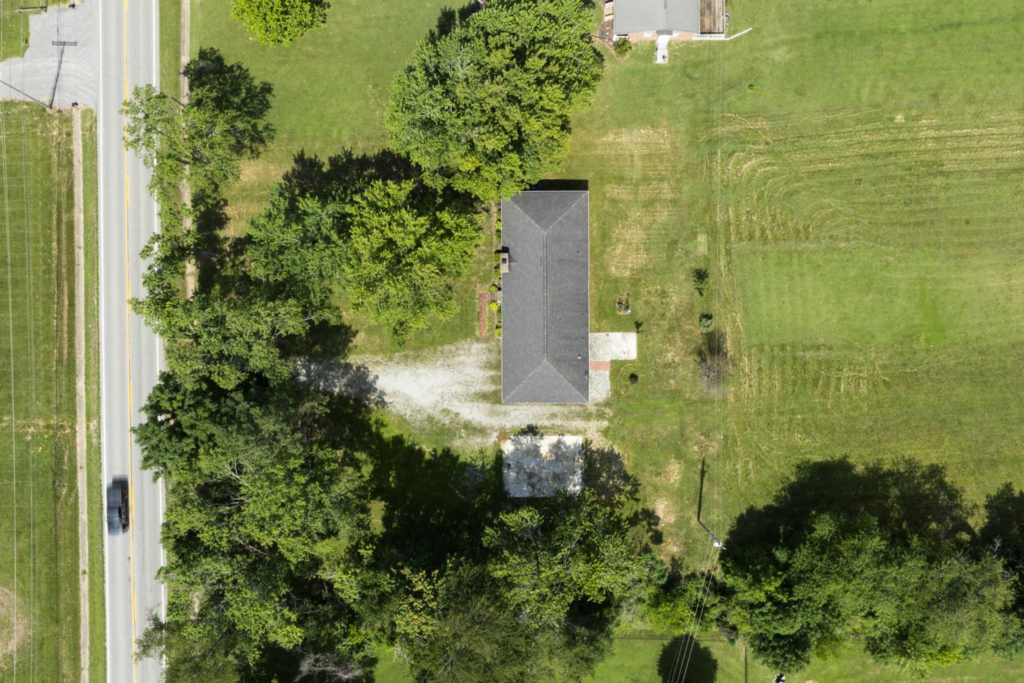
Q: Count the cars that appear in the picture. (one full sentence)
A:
The photo contains exactly 1 car.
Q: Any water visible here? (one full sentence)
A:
No, the picture contains no water.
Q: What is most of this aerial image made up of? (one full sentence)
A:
What you mostly see from above here is grass.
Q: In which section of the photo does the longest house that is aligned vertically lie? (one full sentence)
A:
Look in the center portion of the view to spot the longest house that is aligned vertically.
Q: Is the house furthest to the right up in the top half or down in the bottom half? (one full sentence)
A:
It is in the top half that the house furthest to the right appears.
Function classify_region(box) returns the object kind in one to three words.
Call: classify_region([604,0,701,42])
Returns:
house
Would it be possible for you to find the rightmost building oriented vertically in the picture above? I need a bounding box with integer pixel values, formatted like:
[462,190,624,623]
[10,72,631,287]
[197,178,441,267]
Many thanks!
[501,190,590,403]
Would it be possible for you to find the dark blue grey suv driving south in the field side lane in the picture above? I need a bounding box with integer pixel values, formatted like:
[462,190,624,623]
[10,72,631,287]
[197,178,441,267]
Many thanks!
[104,491,128,536]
